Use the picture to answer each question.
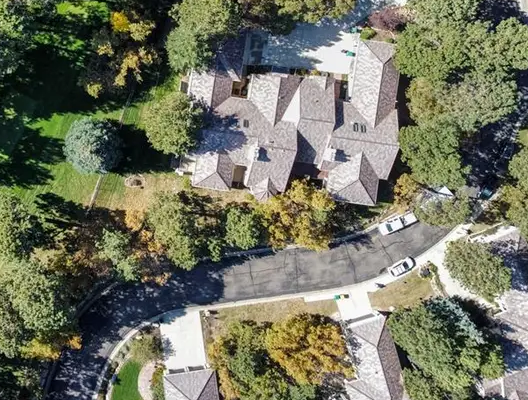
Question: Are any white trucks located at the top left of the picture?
No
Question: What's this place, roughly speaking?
residential area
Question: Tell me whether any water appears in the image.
No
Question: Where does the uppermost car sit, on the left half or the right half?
right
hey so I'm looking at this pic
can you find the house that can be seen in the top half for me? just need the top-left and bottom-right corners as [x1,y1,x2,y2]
[186,22,399,206]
